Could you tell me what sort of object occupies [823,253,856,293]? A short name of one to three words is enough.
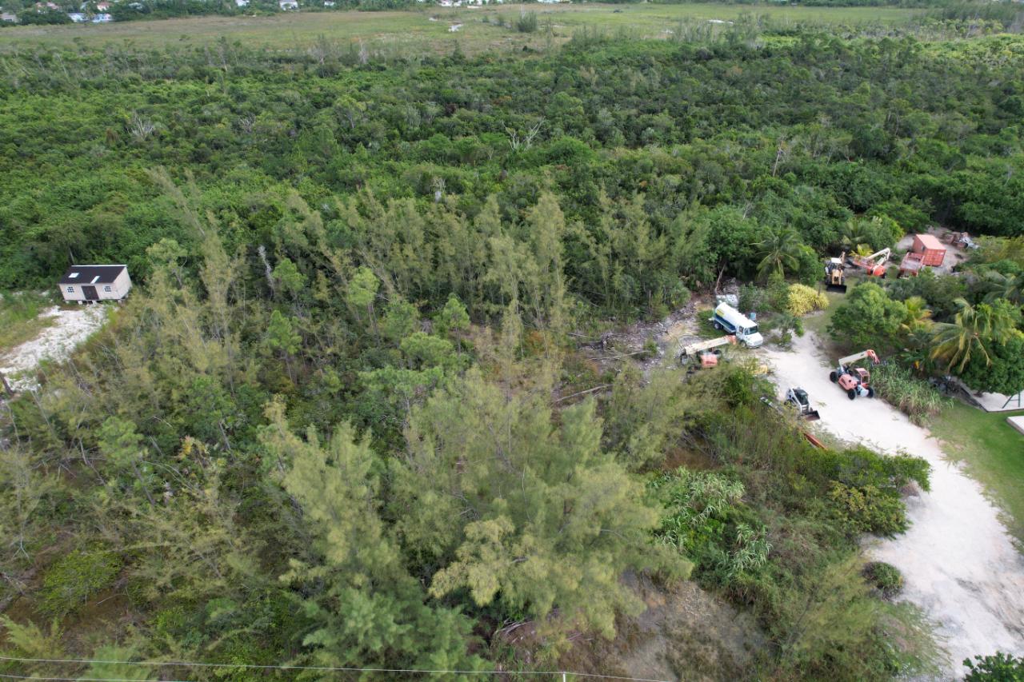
work vehicle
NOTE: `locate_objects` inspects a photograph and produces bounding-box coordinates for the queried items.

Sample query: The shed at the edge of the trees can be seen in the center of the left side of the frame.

[53,260,131,306]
